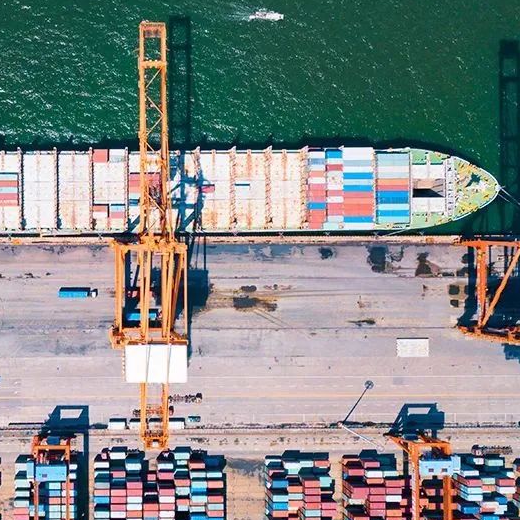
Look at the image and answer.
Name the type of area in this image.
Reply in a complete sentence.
It's a port.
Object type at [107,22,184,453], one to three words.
container crane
